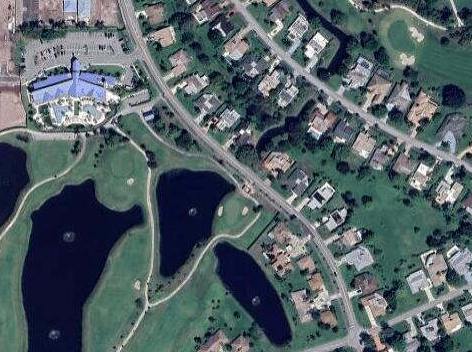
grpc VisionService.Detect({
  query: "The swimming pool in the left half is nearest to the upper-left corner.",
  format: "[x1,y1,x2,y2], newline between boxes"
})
[52,105,69,121]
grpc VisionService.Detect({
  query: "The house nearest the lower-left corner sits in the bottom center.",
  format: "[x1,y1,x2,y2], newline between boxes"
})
[197,325,230,352]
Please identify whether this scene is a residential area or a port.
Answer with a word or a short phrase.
residential area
